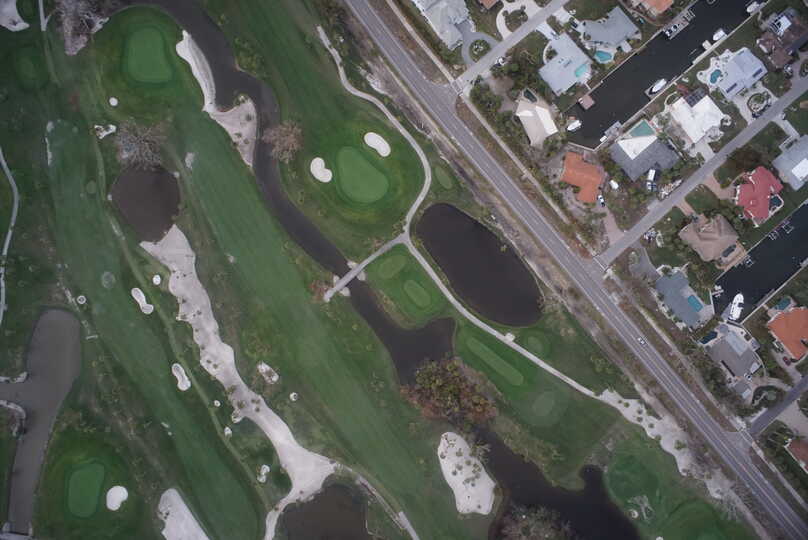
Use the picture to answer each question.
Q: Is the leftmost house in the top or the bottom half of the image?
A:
top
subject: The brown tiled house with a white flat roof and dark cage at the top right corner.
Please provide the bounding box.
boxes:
[759,6,808,68]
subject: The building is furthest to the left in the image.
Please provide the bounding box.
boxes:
[418,0,469,49]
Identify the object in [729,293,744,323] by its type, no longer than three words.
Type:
boat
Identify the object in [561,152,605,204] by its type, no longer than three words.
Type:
house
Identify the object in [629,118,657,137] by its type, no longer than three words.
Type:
swimming pool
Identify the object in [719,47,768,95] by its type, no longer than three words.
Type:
house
